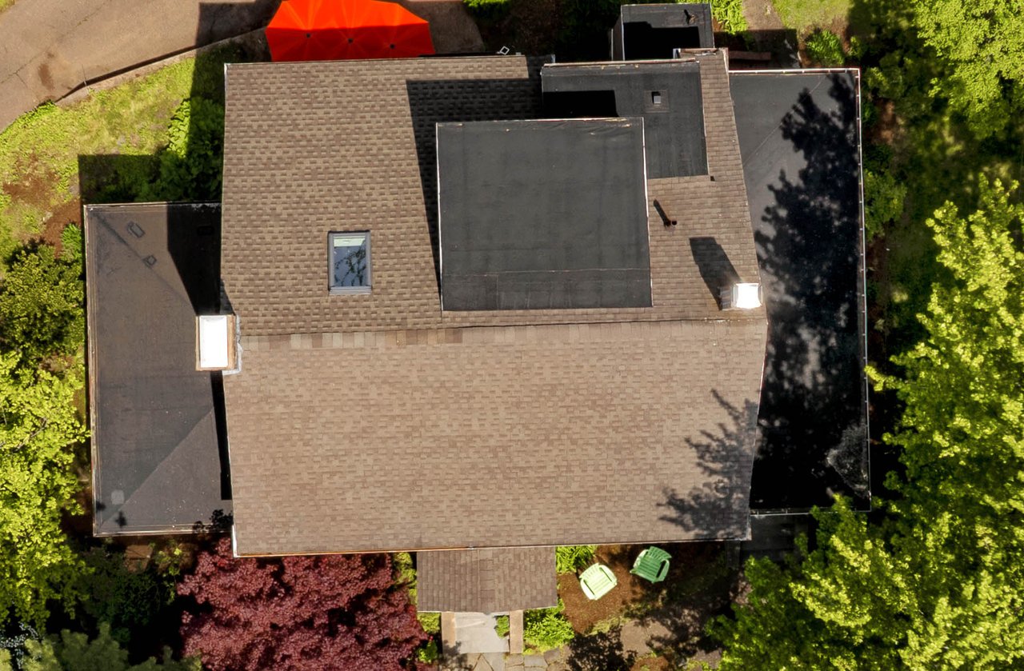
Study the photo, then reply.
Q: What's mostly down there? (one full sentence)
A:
For the most part, this view shows buildings.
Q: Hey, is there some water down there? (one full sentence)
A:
No, there's no water in this view.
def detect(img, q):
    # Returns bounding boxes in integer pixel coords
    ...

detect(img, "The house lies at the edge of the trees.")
[84,3,871,618]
